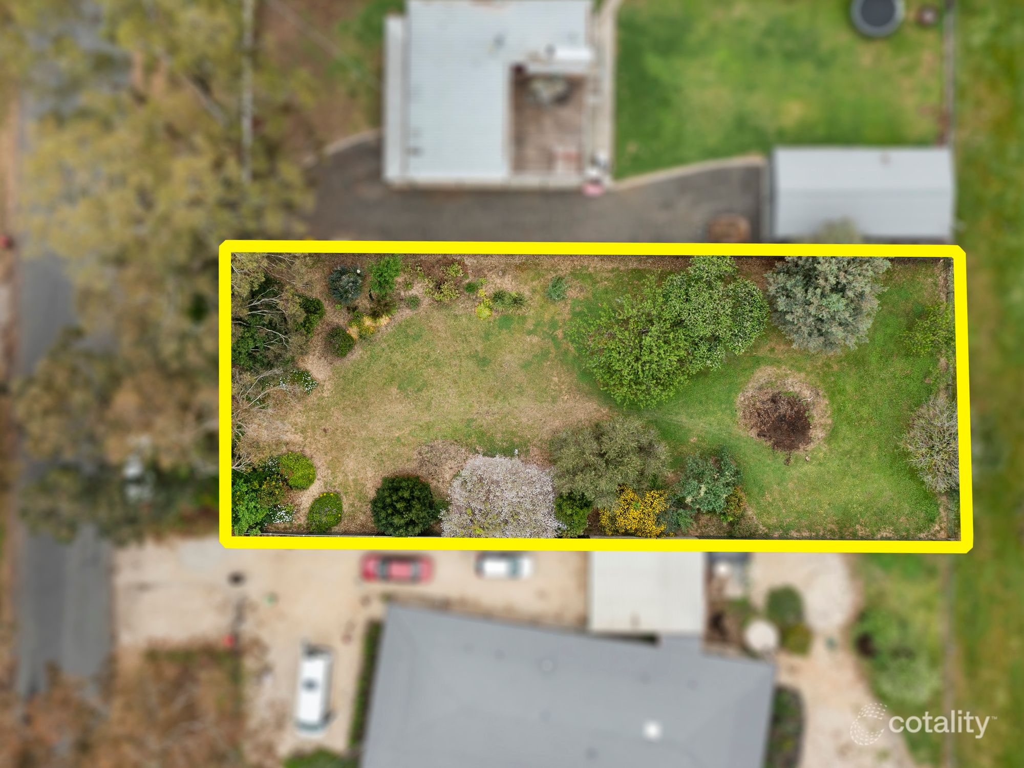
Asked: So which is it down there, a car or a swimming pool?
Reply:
car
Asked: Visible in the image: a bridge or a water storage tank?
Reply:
water storage tank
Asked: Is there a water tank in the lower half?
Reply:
Yes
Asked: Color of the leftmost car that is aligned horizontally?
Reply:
red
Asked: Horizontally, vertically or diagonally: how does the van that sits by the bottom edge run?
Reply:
vertically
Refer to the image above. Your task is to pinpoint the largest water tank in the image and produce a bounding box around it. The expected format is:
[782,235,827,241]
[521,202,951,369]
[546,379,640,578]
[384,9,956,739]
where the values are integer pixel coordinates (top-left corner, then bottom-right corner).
[739,614,779,654]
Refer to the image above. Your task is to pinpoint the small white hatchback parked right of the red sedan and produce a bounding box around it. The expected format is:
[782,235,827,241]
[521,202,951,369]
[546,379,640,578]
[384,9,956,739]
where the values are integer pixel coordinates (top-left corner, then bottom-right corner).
[475,551,534,584]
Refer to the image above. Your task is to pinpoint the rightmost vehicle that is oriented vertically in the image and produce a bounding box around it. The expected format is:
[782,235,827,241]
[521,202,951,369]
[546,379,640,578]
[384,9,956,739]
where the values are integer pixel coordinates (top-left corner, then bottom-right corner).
[291,643,334,734]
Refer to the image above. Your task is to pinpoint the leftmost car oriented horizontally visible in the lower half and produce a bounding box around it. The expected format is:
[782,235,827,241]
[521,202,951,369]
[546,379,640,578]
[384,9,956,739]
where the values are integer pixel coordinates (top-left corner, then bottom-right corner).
[361,551,434,586]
